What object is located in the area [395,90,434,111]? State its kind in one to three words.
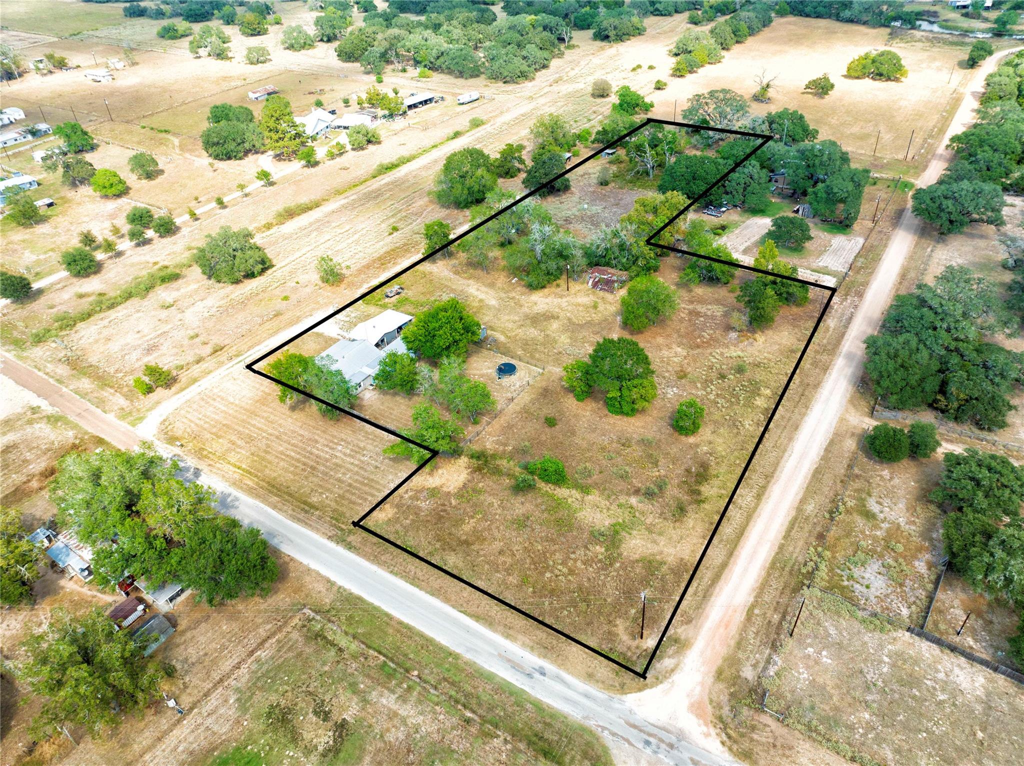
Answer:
building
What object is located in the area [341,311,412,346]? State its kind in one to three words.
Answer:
building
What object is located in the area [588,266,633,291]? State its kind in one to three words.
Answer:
shed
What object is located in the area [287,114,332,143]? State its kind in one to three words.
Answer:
house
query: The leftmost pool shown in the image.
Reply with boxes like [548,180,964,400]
[495,359,517,376]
